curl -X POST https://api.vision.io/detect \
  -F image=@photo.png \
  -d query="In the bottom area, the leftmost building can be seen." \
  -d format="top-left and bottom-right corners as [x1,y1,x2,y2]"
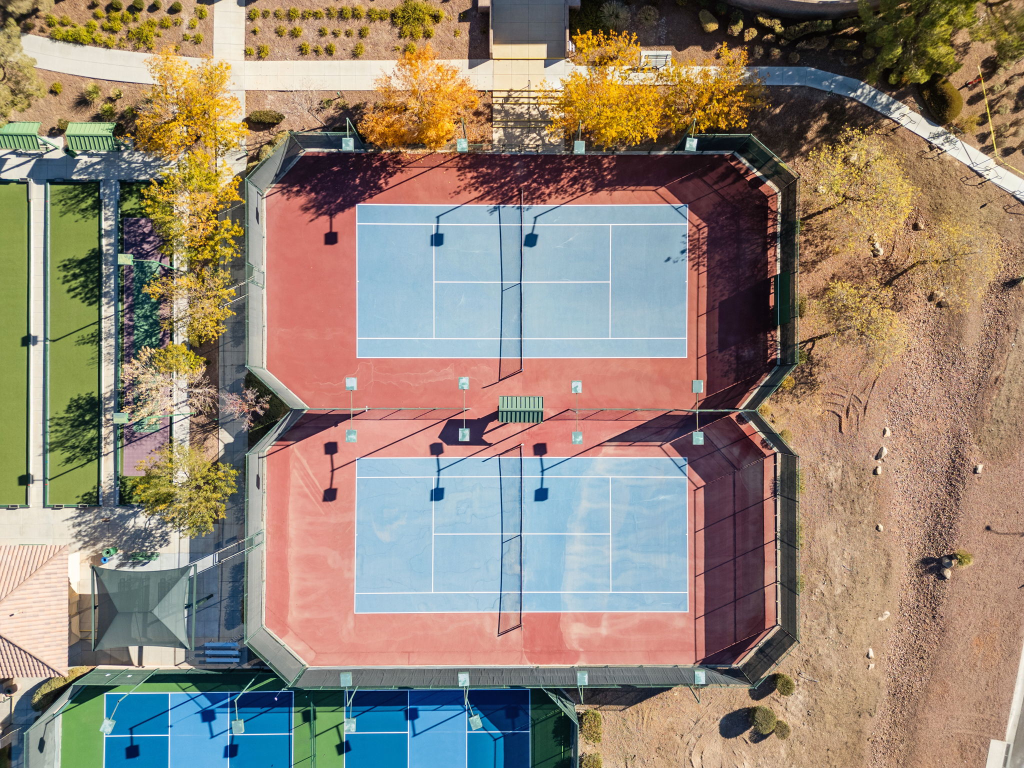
[0,544,83,678]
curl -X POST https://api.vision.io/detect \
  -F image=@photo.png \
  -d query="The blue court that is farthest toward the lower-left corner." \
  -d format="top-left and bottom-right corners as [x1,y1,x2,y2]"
[105,693,293,768]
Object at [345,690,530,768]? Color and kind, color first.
blue sports court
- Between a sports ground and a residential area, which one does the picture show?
sports ground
